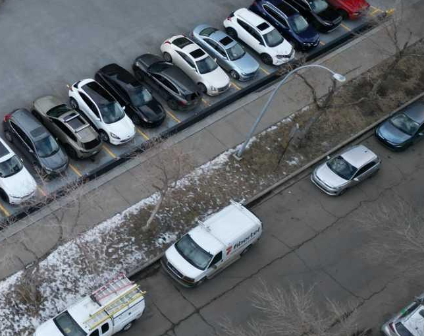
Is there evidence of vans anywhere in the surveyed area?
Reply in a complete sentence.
Yes, the photo shows a van.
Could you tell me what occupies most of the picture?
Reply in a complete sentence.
The scene is dominated by paved ground.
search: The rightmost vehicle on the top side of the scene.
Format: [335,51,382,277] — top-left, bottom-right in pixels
[374,100,424,153]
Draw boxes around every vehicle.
[0,137,34,203]
[0,108,70,180]
[100,63,171,128]
[130,52,206,111]
[310,144,381,200]
[160,34,232,94]
[326,0,369,20]
[34,96,107,162]
[192,22,262,80]
[374,100,424,153]
[36,270,151,336]
[68,80,138,145]
[249,0,320,50]
[289,0,341,33]
[162,201,269,290]
[221,5,293,66]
